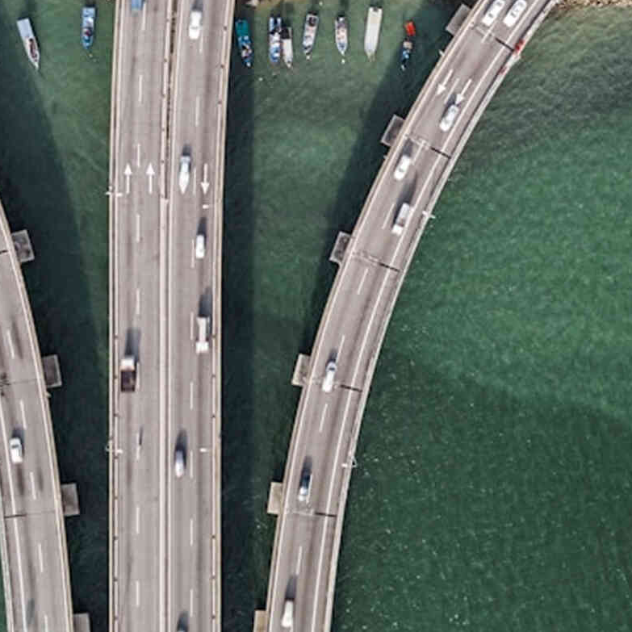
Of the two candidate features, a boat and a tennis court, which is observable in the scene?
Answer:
boat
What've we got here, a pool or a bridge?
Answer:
bridge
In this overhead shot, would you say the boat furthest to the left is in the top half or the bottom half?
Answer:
top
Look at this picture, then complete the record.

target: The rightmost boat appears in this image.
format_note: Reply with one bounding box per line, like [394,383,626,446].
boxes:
[399,17,415,79]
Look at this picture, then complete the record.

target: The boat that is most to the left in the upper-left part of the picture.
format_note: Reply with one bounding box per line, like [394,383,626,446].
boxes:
[17,16,42,81]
